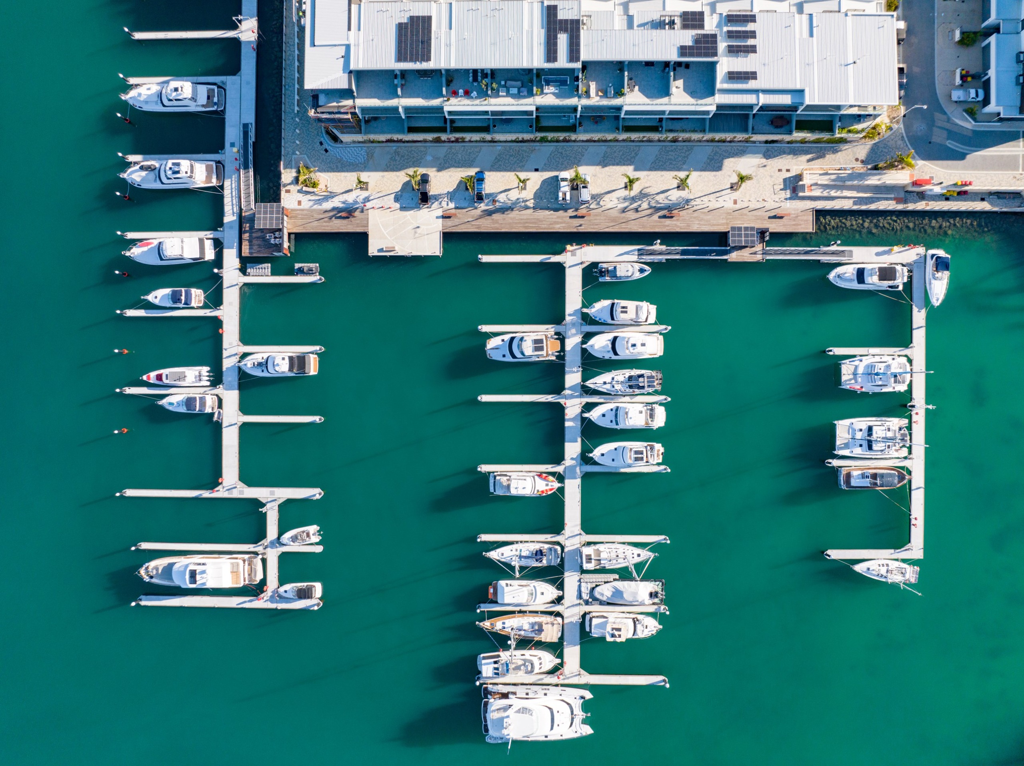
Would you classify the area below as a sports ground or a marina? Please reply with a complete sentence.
This looks like a marina.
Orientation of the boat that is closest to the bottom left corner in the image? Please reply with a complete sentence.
The boat that is closest to the bottom left corner is laid out horizontally.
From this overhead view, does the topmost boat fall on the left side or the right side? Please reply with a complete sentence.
The topmost boat is on the left side of the image.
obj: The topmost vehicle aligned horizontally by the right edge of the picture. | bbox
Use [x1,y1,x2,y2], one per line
[949,87,984,103]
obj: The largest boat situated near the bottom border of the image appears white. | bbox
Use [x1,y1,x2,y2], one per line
[482,682,594,750]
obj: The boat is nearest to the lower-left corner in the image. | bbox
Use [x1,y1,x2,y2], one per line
[133,555,265,592]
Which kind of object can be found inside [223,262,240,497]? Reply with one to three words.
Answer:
pier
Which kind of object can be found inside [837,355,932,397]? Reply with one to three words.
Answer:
boat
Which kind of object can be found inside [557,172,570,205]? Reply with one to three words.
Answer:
vehicle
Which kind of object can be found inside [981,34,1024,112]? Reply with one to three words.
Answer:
house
